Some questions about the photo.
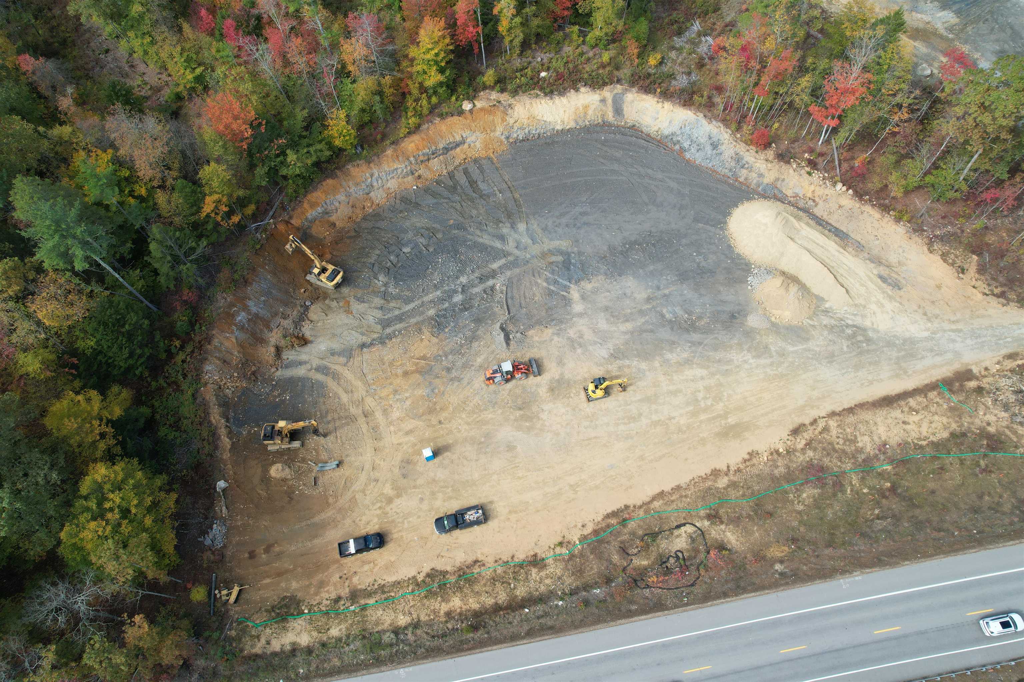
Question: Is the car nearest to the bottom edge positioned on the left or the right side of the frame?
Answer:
right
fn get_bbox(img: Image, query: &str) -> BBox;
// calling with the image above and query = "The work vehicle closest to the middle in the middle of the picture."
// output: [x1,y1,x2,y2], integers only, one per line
[484,357,543,387]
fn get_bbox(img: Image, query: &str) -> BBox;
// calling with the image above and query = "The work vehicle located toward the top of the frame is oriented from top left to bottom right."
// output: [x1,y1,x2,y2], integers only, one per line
[292,237,348,289]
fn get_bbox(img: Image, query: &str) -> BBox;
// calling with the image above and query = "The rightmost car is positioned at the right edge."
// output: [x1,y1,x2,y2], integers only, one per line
[980,615,1024,639]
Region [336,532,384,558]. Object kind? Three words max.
truck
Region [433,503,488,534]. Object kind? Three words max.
truck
